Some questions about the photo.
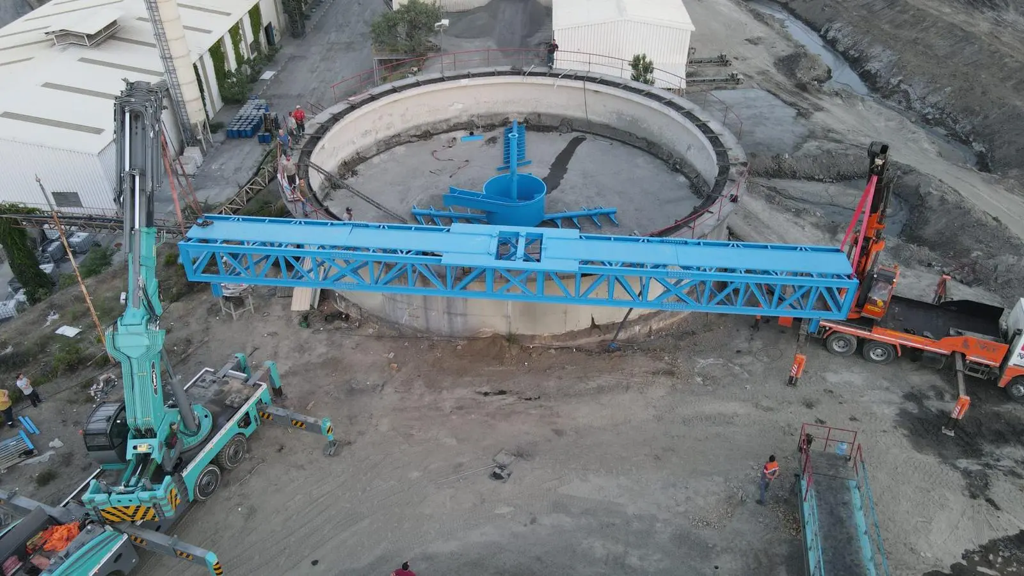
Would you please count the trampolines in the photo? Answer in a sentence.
The picture shows no trampolines.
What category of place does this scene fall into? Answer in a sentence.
The area seen from above is an industrial area.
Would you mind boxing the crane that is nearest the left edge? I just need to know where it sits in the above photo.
[0,84,341,576]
